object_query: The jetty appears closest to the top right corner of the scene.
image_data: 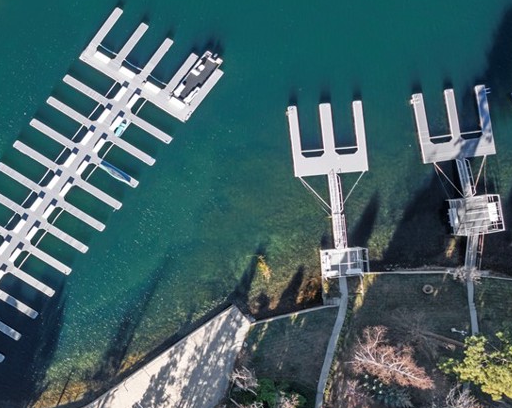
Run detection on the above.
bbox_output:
[411,85,496,198]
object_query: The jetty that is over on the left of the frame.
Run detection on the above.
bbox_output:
[0,9,222,362]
